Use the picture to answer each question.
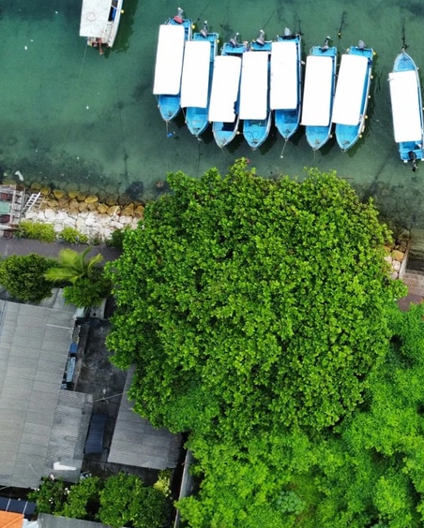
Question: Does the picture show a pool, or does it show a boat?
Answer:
boat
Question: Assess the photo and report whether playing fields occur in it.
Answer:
No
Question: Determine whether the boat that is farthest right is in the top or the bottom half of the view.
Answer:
top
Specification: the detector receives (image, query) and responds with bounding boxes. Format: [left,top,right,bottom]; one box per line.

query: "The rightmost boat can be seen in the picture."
[389,50,424,172]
